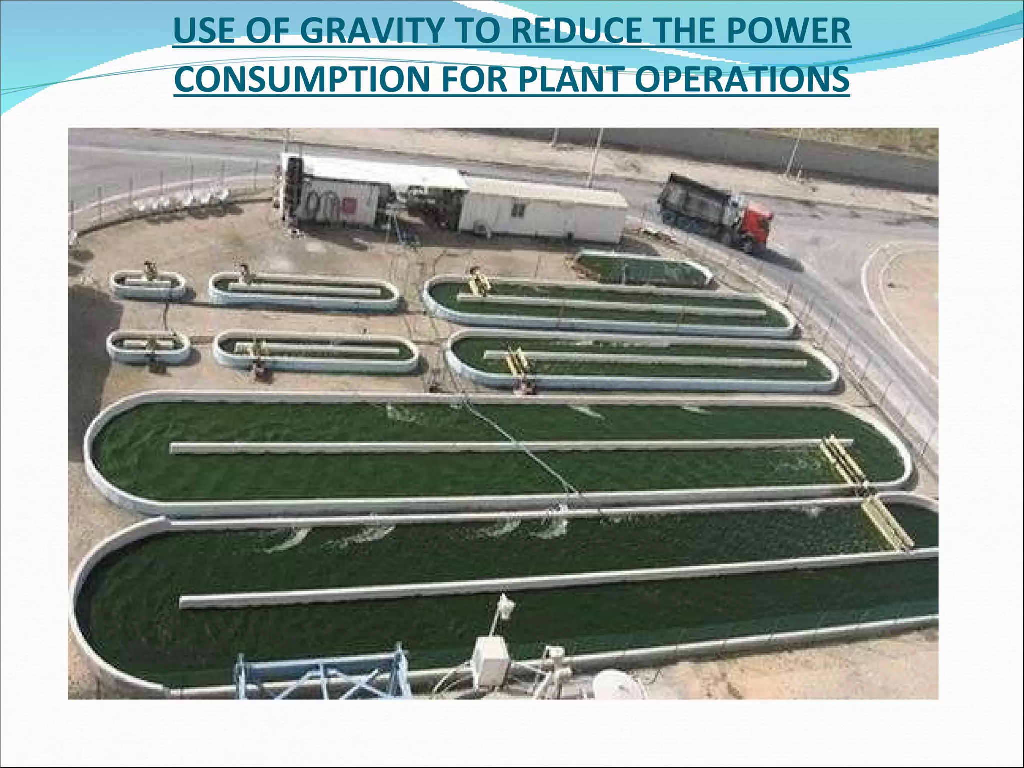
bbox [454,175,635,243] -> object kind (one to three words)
building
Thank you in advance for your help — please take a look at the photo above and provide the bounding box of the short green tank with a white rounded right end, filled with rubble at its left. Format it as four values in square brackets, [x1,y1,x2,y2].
[579,251,716,291]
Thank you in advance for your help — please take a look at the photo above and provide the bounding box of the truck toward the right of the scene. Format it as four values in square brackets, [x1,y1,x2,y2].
[660,176,778,253]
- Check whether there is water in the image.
Yes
